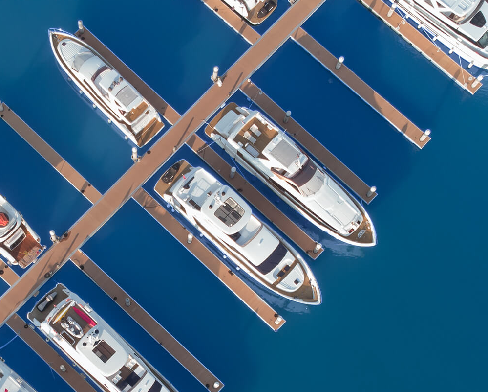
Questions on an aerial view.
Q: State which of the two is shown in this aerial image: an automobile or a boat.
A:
boat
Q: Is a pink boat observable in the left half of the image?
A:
Yes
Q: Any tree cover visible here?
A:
No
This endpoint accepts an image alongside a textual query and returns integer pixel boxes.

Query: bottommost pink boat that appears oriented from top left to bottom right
[73,308,95,327]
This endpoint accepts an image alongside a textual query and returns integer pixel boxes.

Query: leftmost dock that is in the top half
[0,102,102,204]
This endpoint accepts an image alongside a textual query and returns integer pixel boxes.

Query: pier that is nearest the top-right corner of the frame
[362,0,483,94]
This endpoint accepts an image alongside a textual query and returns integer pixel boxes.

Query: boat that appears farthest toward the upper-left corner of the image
[47,28,164,149]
